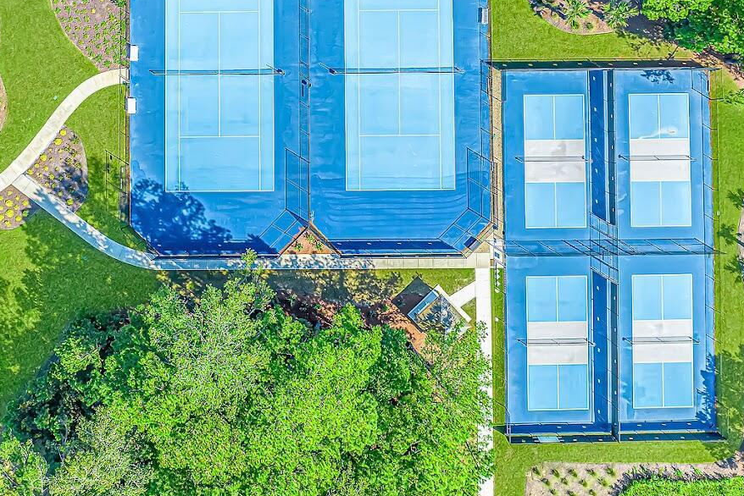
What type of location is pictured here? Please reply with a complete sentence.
The picture captures a sports ground.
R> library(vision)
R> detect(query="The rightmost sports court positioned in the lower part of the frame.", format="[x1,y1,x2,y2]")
[608,250,717,434]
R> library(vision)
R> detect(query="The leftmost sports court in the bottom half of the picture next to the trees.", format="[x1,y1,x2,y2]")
[505,251,609,435]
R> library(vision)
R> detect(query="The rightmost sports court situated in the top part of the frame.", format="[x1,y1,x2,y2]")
[607,68,713,250]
